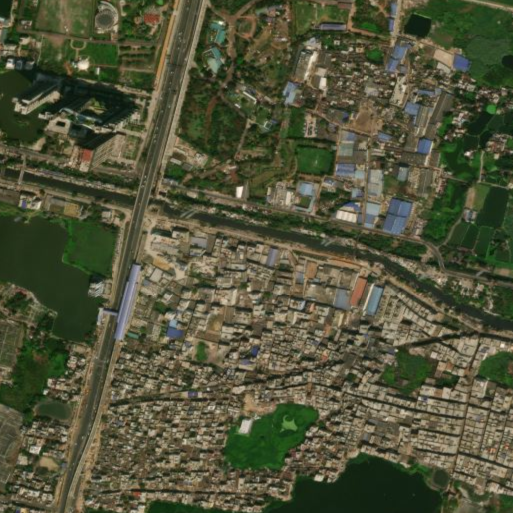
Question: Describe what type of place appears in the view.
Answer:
residential area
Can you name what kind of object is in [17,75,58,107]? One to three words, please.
building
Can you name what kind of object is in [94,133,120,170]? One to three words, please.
building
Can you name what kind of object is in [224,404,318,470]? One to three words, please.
pond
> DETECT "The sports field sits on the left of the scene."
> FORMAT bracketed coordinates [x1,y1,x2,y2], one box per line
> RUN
[37,0,92,38]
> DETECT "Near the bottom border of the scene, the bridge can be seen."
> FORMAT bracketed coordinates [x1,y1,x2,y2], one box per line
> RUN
[67,340,121,513]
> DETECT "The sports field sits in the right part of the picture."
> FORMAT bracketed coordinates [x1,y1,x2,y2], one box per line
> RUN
[297,146,334,175]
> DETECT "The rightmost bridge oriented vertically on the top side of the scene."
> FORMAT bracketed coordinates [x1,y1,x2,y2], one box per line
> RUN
[162,0,207,171]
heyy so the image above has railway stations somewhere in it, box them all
[115,265,141,341]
